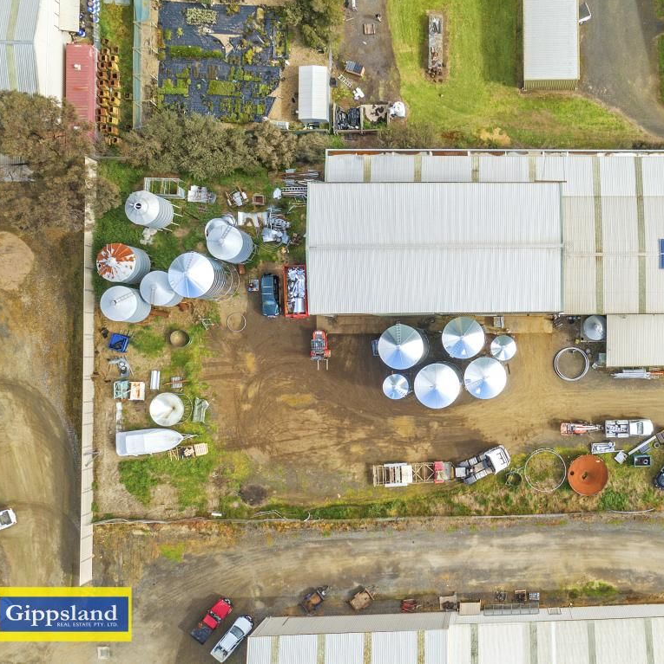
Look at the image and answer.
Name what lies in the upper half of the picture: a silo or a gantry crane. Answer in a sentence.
Visible in the upper half of the picture is a silo.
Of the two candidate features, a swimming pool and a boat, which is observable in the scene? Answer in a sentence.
Visible in the photo is a boat.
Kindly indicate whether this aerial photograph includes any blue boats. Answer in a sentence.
No, I can see no blue boat in this picture.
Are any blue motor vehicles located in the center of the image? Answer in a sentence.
Yes, a blue motor vehicle appears in the center of the image.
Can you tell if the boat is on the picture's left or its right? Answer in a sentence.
The boat sits on the left side.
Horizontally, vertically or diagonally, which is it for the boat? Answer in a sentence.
The boat has been laid out horizontally relative to the frame.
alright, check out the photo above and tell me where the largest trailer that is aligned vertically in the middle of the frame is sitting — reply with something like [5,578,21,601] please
[282,264,308,318]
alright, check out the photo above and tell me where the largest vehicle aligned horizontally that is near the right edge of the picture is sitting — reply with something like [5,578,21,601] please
[605,417,655,439]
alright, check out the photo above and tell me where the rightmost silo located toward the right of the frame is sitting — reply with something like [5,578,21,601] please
[581,315,605,340]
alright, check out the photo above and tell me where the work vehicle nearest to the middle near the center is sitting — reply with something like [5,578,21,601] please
[312,331,330,364]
